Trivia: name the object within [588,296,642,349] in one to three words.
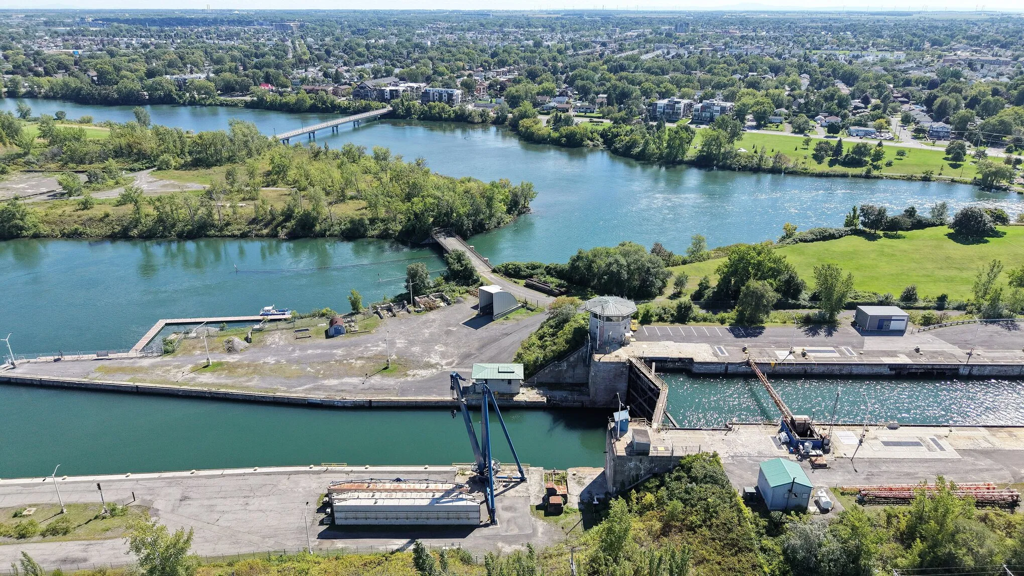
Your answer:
building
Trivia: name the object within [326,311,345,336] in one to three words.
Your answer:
shed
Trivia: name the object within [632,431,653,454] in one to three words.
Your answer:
shed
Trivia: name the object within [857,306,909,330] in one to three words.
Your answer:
building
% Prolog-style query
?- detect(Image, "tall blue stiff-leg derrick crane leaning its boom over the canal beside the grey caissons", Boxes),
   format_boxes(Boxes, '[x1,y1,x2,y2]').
[448,371,528,529]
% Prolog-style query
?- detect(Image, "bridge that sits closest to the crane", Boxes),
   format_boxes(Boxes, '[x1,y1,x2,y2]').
[423,228,493,277]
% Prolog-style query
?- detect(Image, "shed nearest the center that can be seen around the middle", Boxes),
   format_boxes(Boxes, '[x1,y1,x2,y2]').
[478,282,524,320]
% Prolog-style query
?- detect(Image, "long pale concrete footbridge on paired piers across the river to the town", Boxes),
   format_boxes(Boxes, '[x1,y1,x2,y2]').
[266,105,401,142]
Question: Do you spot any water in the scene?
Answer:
Yes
